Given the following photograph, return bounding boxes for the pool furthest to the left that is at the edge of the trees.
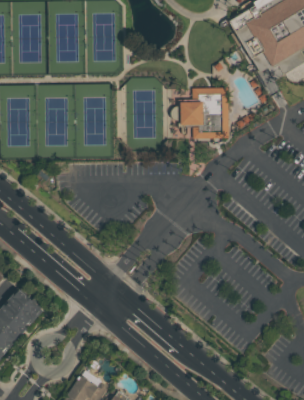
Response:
[98,358,116,382]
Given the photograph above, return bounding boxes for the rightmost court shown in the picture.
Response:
[126,77,162,150]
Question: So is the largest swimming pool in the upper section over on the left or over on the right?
right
